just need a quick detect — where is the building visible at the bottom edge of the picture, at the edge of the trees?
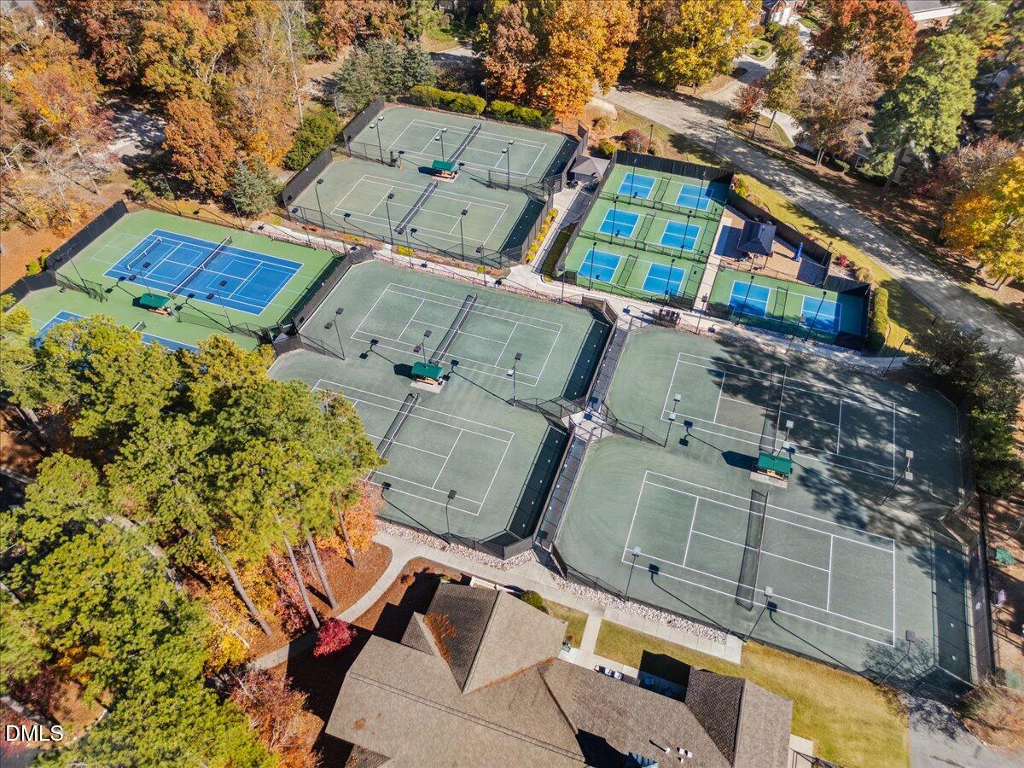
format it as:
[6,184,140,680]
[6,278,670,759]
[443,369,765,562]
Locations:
[326,579,792,768]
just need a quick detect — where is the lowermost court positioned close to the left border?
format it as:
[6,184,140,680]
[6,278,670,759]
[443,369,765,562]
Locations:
[0,285,266,417]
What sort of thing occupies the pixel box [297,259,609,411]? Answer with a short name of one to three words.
tennis court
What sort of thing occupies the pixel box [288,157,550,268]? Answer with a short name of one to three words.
tennis court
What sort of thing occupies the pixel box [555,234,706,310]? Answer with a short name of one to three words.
sports court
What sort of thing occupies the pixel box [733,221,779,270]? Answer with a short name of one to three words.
building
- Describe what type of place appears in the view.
sports ground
